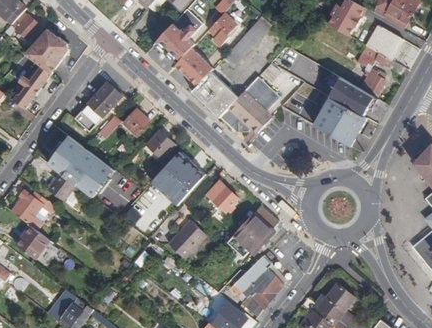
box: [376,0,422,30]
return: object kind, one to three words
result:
house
